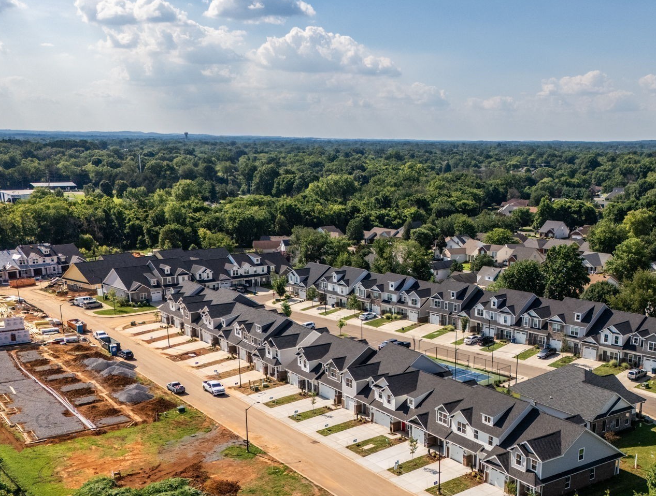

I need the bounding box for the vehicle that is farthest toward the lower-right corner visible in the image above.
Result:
[626,366,646,379]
